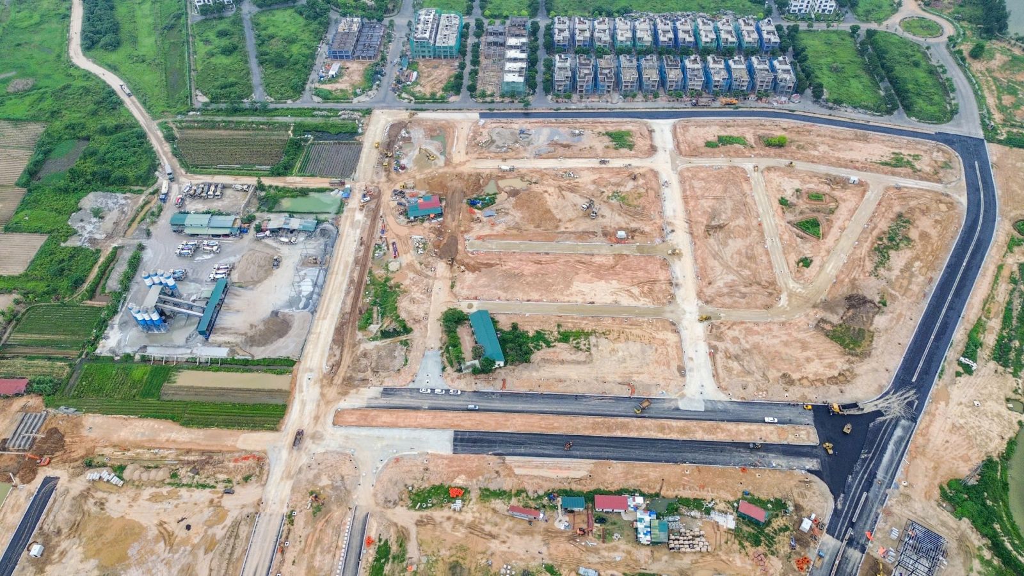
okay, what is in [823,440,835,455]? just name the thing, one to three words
vehicle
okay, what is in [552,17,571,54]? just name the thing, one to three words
house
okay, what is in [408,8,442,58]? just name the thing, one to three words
building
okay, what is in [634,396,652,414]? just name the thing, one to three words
vehicle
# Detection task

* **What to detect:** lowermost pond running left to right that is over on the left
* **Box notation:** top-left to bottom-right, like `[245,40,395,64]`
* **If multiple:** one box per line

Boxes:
[168,369,291,388]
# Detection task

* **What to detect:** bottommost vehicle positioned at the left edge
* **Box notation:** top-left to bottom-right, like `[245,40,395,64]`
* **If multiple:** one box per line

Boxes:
[29,450,51,466]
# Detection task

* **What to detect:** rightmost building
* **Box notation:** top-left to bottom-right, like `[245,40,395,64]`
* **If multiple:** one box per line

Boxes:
[886,517,948,576]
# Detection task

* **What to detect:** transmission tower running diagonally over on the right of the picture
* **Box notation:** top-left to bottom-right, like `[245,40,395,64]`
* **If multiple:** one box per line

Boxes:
[960,452,997,486]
